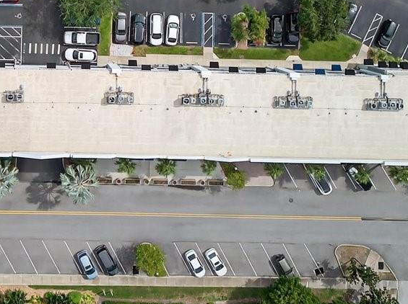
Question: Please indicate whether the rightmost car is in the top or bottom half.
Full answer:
The rightmost car is in the top half of the image.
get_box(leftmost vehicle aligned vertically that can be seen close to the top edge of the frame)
[114,12,128,43]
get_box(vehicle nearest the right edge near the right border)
[374,18,397,50]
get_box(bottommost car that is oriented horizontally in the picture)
[64,48,96,62]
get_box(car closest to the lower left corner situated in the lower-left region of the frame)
[76,248,98,279]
